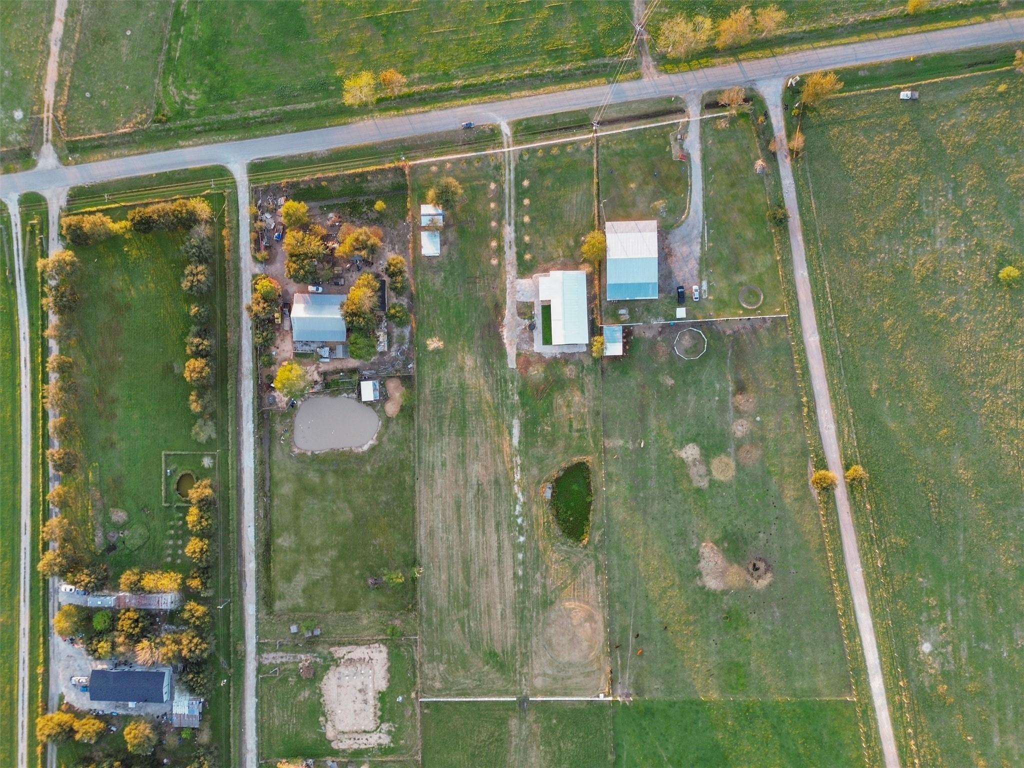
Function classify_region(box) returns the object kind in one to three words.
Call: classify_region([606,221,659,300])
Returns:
barn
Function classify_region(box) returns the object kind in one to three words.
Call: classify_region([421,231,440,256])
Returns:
shed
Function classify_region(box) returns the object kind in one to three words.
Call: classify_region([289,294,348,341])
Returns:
house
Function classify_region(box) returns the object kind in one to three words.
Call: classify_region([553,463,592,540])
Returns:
pond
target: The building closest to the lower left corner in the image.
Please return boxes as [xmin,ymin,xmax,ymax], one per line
[86,668,168,702]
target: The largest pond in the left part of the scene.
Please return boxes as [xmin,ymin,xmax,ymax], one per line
[294,397,379,451]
